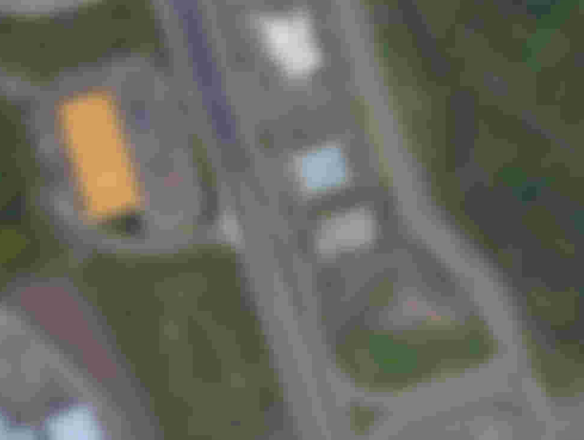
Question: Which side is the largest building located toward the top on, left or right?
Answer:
left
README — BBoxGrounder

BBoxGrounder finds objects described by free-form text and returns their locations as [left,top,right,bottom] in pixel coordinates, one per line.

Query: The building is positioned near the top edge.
[262,12,323,78]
